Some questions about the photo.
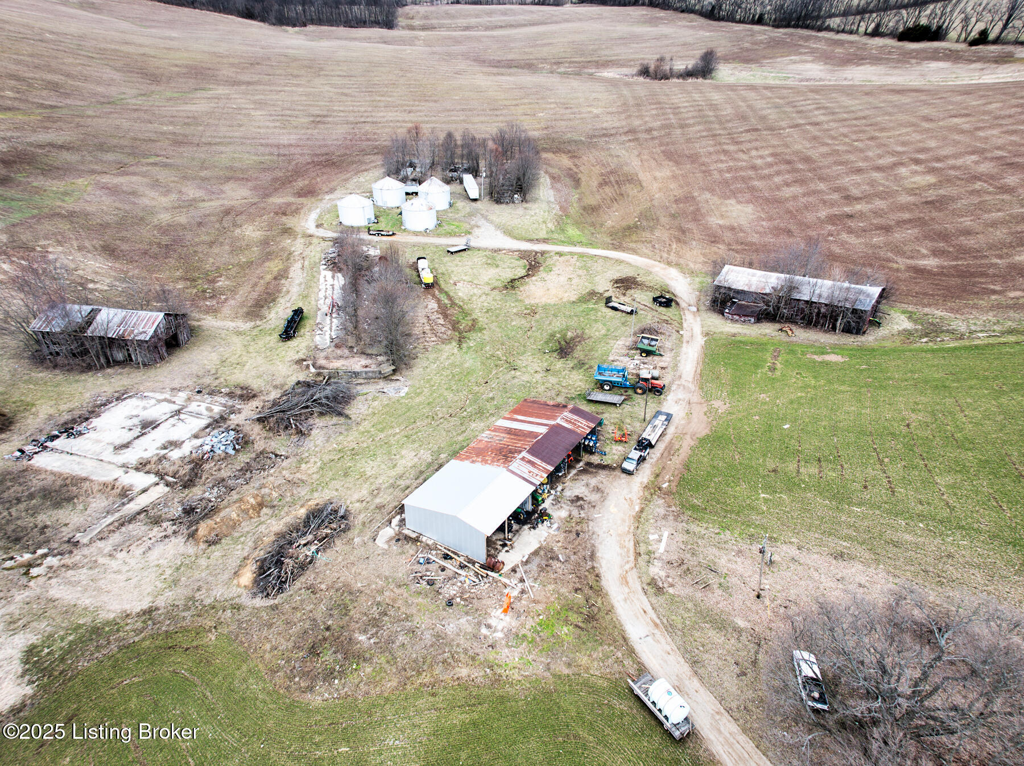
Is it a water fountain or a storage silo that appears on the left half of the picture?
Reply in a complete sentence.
It is a storage silo that can be seen on the left half of the picture.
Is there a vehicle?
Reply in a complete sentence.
Yes, the picture does show a vehicle.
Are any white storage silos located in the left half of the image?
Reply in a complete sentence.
Yes, in the left half of the image there is a white storage silo.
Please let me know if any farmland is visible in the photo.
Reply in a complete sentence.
Yes, the picture does contain farmland.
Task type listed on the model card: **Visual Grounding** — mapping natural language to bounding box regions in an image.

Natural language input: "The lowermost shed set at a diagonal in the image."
[405,396,599,561]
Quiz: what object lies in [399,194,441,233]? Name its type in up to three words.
silo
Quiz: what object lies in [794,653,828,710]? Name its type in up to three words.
truck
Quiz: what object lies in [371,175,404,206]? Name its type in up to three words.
silo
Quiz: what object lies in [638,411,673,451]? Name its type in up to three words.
trailer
